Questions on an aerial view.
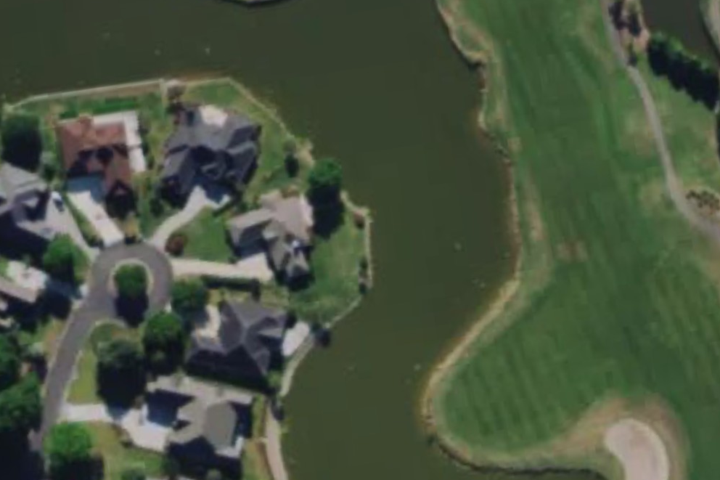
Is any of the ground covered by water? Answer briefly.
Yes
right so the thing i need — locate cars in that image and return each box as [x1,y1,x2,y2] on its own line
[51,191,63,208]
